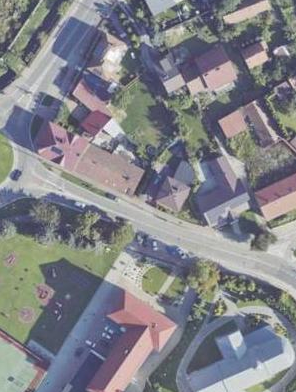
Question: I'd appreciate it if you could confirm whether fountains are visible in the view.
No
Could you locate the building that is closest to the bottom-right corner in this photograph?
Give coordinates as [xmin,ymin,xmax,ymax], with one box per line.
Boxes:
[187,328,291,392]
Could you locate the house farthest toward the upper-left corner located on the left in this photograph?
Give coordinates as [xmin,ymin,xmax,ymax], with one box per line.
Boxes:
[79,33,113,74]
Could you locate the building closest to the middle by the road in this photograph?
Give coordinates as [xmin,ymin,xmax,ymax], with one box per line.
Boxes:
[153,176,190,214]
